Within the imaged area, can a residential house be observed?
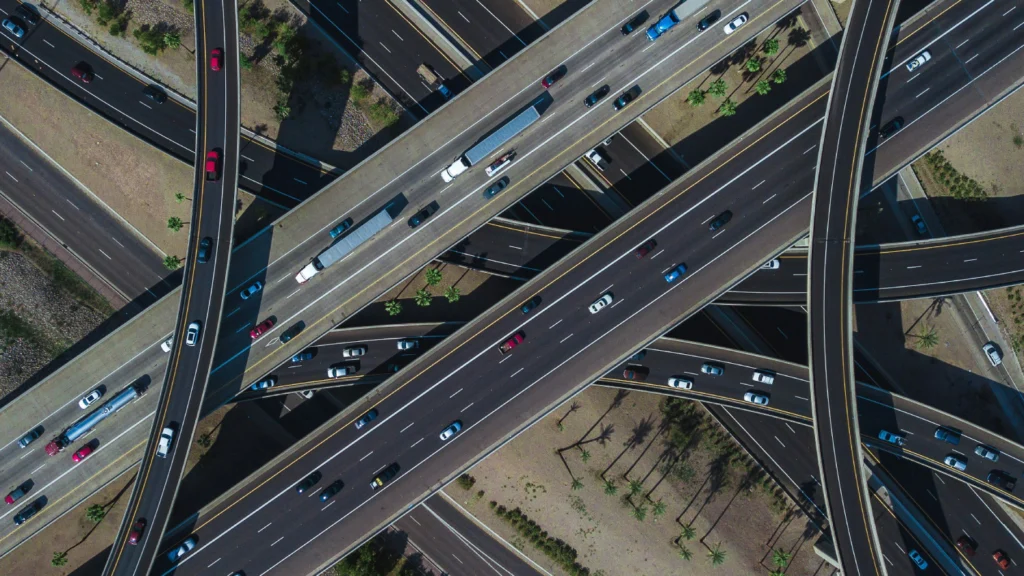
No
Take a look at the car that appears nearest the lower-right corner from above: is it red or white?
red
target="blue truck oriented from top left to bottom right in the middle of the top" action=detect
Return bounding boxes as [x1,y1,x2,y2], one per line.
[432,77,455,100]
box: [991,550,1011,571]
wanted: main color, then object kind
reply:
red car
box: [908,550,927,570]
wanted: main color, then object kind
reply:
blue car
